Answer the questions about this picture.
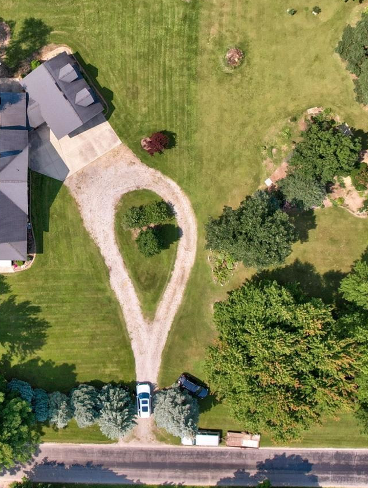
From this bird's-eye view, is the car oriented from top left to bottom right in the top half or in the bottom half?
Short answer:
bottom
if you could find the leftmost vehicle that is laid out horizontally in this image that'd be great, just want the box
[179,428,222,447]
